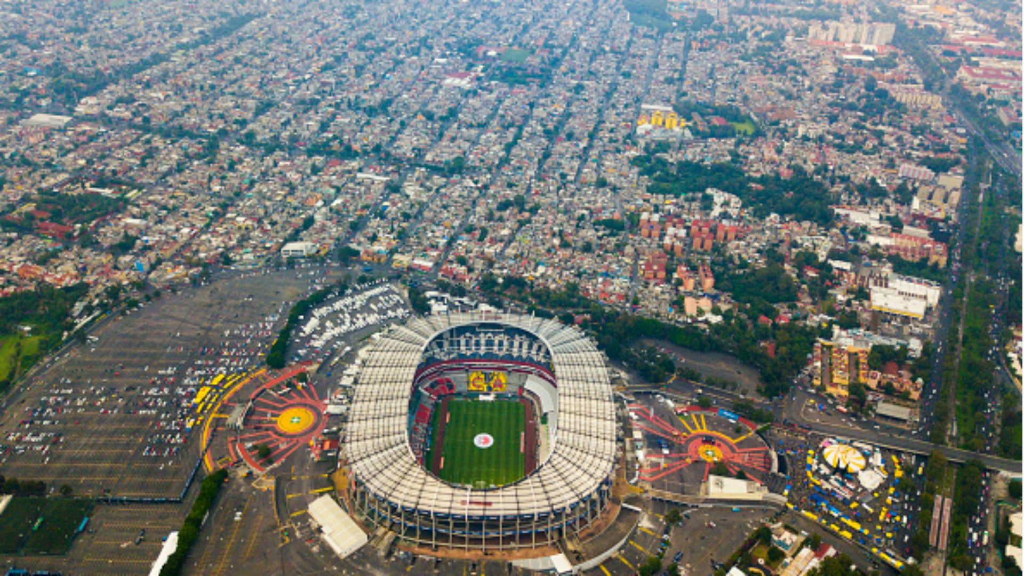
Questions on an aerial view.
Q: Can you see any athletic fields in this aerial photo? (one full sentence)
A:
Yes, there's an athletic field down there.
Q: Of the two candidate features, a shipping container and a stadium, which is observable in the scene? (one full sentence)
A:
This aerial view contains a stadium.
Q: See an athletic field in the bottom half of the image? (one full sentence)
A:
Yes, the scene does show an athletic field in the bottom half of the image.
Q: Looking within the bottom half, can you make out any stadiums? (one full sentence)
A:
Yes, I can see a stadium within the bottom half.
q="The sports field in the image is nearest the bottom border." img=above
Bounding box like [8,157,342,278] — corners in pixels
[438,398,525,484]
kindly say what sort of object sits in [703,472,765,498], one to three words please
building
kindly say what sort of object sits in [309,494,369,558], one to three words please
building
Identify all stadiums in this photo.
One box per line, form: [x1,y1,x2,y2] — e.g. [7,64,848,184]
[344,300,617,553]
